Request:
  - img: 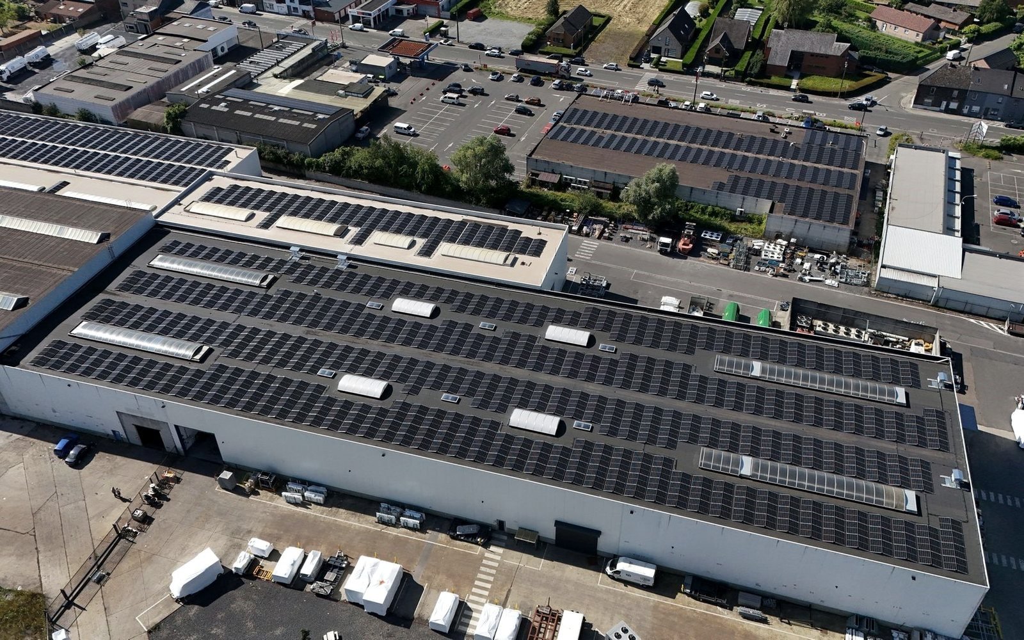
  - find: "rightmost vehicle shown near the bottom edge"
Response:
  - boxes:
[681,573,733,608]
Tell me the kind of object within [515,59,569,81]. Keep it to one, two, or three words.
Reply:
truck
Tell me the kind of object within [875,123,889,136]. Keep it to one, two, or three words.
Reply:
vehicle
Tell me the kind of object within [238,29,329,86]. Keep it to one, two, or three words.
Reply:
building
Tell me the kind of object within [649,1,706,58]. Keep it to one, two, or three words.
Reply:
house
